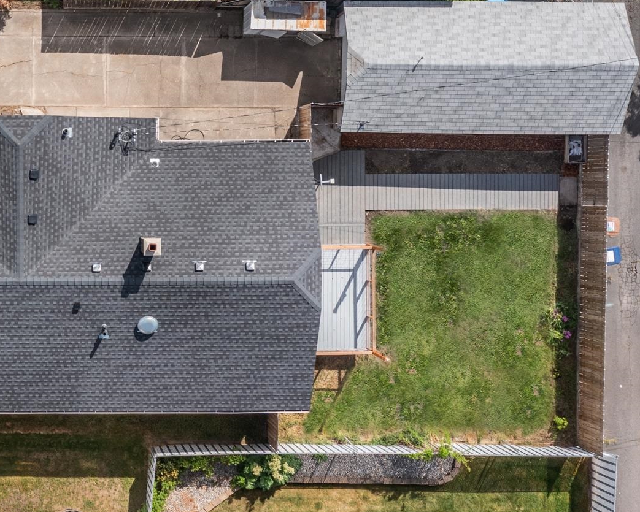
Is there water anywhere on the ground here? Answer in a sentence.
No, the scene doesn't show any water.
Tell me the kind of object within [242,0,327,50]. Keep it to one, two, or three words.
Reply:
shed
